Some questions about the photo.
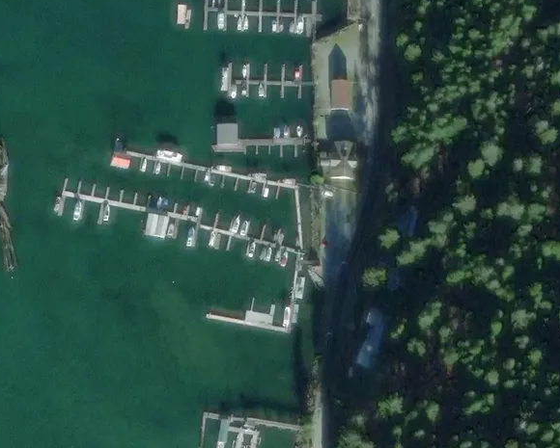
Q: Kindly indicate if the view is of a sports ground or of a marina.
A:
marina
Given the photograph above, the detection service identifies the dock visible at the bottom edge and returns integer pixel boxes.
[200,413,298,448]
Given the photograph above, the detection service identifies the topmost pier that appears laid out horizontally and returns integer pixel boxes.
[203,0,321,40]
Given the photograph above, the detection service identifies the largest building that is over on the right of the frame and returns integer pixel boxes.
[320,139,359,180]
